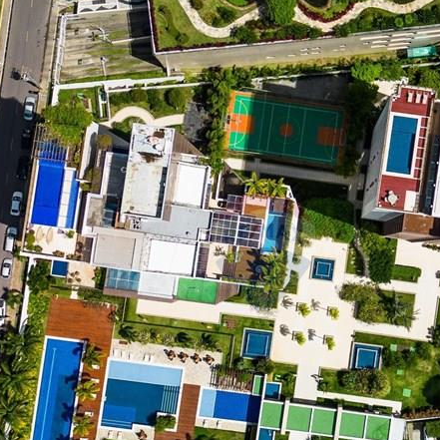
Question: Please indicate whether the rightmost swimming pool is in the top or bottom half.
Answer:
top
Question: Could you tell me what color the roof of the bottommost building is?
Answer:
green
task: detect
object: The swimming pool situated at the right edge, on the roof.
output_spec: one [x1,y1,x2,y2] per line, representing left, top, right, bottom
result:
[383,111,422,179]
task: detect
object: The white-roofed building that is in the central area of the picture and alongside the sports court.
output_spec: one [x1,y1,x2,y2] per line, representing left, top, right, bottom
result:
[80,123,300,305]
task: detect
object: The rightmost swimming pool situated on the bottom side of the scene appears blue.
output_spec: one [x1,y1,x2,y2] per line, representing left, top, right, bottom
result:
[350,341,384,373]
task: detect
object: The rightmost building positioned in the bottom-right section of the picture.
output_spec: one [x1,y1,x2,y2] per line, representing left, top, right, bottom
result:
[258,392,406,440]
